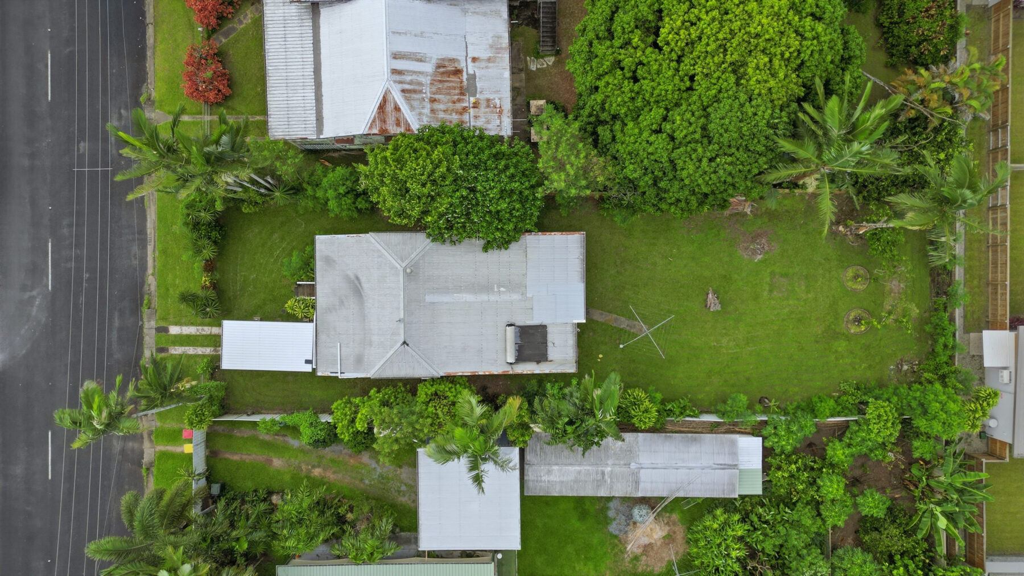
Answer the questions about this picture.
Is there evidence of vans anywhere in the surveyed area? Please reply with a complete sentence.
No, the photo shows no van.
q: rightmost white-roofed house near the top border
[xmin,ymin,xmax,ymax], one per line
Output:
[263,0,527,151]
